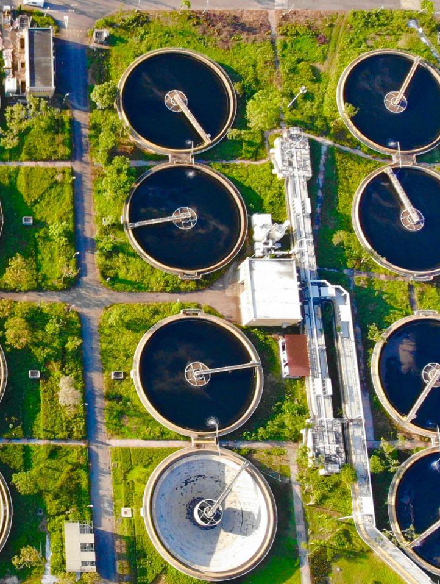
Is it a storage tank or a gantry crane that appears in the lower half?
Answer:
storage tank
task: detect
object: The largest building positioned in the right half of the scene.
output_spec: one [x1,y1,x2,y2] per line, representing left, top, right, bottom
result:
[235,258,304,328]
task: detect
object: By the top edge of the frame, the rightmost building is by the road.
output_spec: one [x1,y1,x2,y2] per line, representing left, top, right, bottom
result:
[15,27,56,98]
